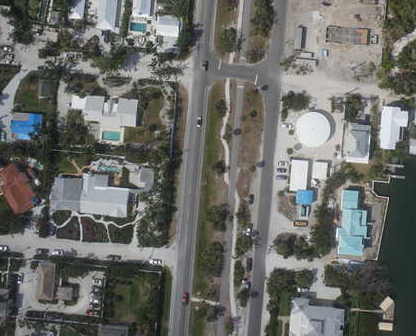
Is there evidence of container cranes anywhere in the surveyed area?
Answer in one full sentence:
No, the photo shows no container crane.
